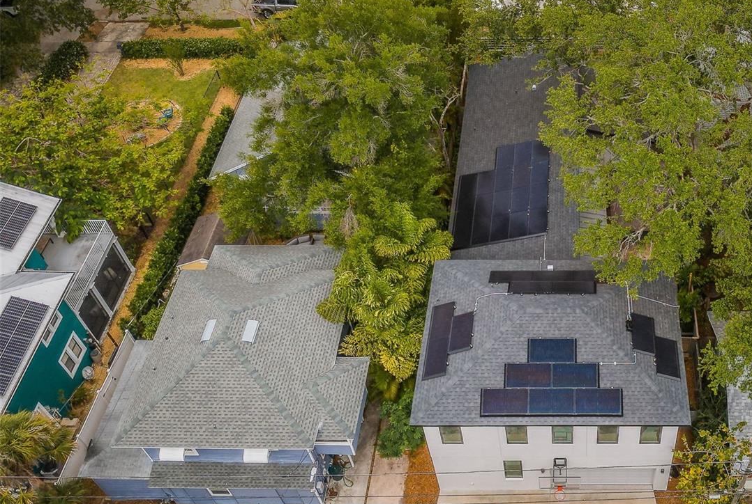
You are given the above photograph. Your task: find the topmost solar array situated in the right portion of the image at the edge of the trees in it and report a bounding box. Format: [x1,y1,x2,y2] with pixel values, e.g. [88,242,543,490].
[452,131,549,259]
